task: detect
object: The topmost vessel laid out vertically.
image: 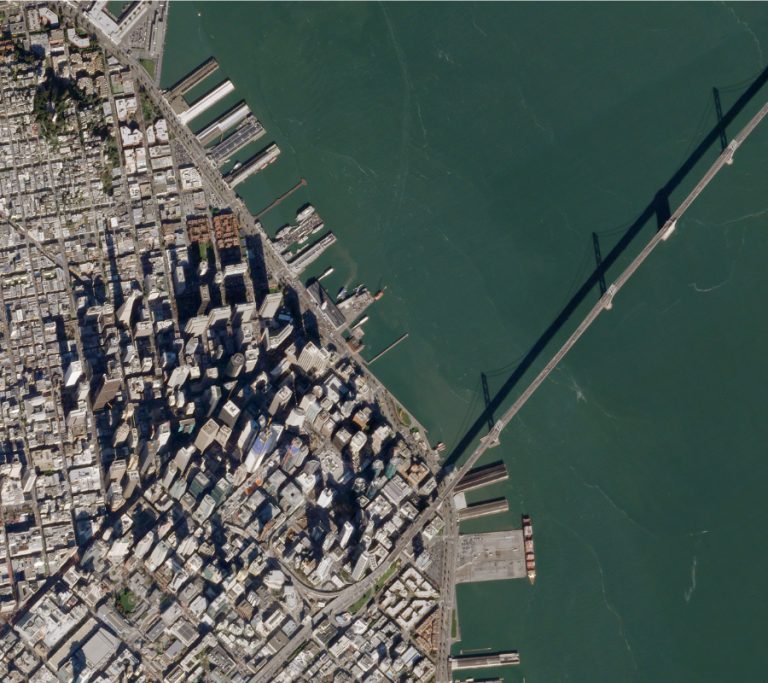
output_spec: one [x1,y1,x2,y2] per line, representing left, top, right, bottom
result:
[522,516,536,585]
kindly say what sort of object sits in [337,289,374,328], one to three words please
pier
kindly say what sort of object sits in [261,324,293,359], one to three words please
building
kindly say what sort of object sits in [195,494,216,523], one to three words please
building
